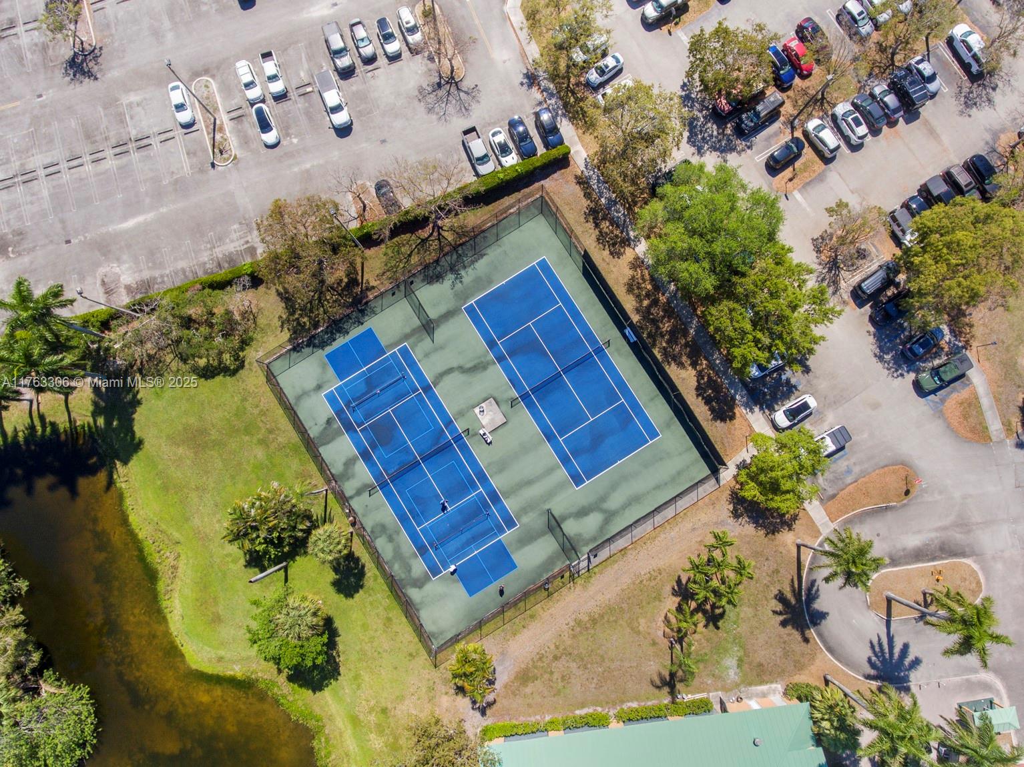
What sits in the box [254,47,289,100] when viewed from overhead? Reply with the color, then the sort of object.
white truck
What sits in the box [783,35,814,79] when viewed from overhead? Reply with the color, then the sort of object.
red car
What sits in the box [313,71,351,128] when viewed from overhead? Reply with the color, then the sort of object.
white truck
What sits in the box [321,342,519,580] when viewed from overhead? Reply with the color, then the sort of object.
blue tennis court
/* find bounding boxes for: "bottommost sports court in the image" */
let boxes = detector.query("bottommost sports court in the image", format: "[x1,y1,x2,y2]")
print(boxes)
[406,464,519,601]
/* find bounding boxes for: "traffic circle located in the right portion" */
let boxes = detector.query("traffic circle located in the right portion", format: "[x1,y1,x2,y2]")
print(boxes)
[866,559,984,620]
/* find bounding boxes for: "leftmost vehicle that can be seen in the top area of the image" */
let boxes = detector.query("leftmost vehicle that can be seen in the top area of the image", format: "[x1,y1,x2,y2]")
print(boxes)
[169,84,197,127]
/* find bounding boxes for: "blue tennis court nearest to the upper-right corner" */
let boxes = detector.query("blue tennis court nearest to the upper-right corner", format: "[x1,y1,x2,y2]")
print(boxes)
[462,256,662,490]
